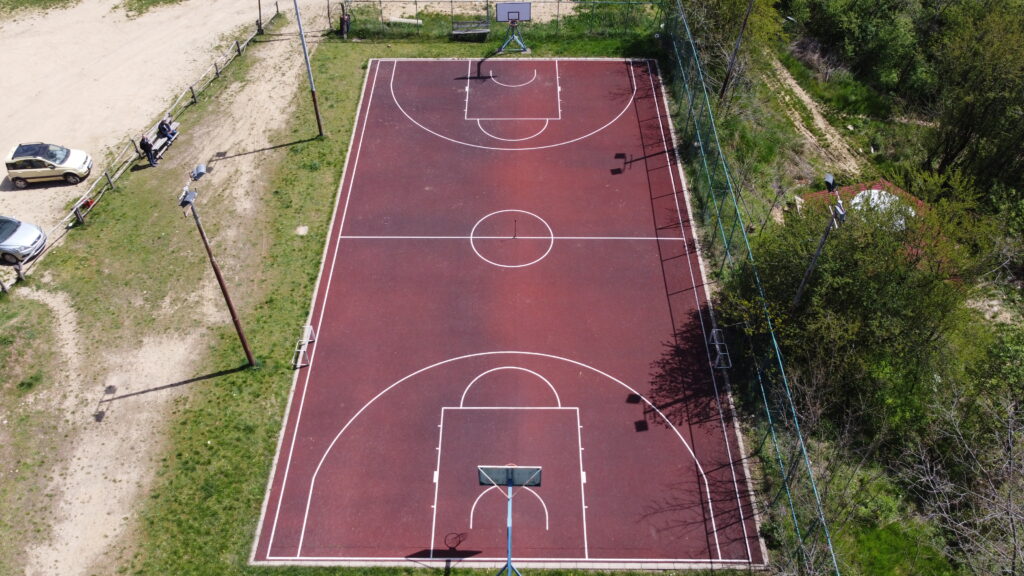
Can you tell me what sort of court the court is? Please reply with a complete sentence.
In the photo, the court shows up as a basketball court.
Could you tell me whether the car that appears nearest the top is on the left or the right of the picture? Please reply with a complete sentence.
The car that appears nearest the top appears in the left half of the scene.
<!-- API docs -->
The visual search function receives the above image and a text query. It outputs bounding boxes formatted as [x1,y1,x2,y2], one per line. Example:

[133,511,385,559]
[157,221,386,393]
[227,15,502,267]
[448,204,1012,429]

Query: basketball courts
[247,57,771,571]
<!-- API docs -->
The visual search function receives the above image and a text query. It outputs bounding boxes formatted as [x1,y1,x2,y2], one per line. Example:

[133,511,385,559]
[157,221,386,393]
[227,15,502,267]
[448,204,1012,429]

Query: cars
[0,212,50,264]
[1,142,93,189]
